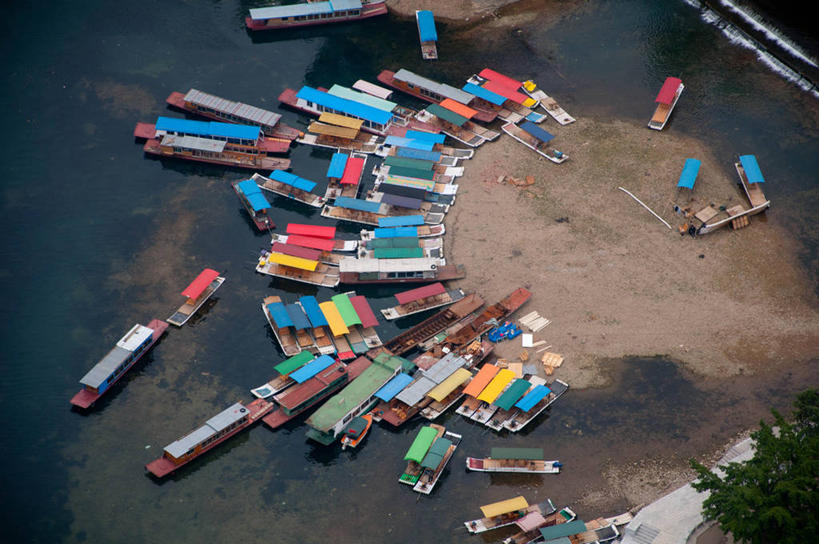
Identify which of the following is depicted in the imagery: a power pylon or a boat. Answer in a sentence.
This aerial view contains a boat.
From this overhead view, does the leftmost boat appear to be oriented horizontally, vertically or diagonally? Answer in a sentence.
The leftmost boat is oriented diagonally.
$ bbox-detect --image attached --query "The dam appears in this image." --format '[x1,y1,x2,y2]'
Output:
[666,0,819,107]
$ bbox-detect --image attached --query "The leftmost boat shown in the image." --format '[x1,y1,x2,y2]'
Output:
[71,318,169,408]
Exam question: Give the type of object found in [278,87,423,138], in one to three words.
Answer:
boat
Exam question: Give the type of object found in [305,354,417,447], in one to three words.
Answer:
boat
